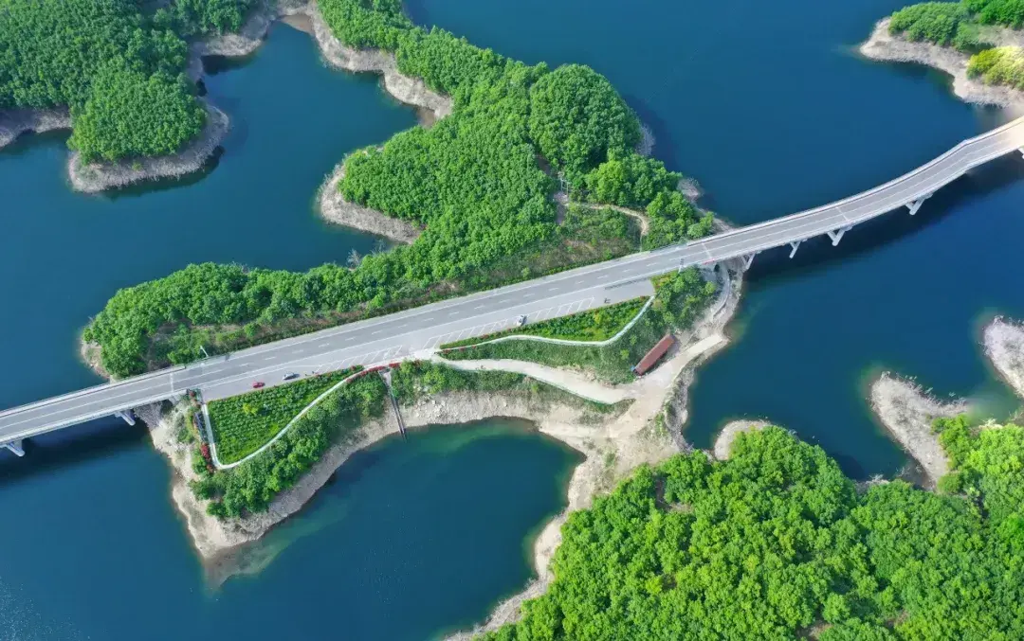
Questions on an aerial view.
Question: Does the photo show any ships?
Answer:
No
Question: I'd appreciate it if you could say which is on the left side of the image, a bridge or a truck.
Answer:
bridge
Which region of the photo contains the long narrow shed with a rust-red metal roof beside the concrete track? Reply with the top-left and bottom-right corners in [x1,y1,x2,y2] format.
[635,335,677,378]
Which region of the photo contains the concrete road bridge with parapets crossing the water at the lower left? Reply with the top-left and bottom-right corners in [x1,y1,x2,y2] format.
[0,361,195,457]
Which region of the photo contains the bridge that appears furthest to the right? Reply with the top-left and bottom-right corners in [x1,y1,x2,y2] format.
[684,115,1024,273]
